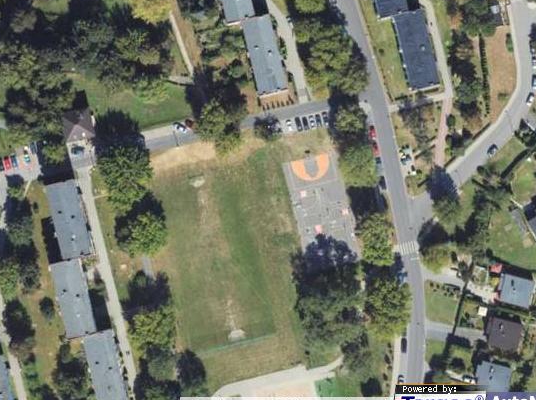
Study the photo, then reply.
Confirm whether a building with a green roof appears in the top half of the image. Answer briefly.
No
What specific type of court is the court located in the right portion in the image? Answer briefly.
basketball court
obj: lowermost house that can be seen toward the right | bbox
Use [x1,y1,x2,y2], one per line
[473,361,513,399]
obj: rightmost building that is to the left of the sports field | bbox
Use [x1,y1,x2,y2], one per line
[83,331,128,400]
